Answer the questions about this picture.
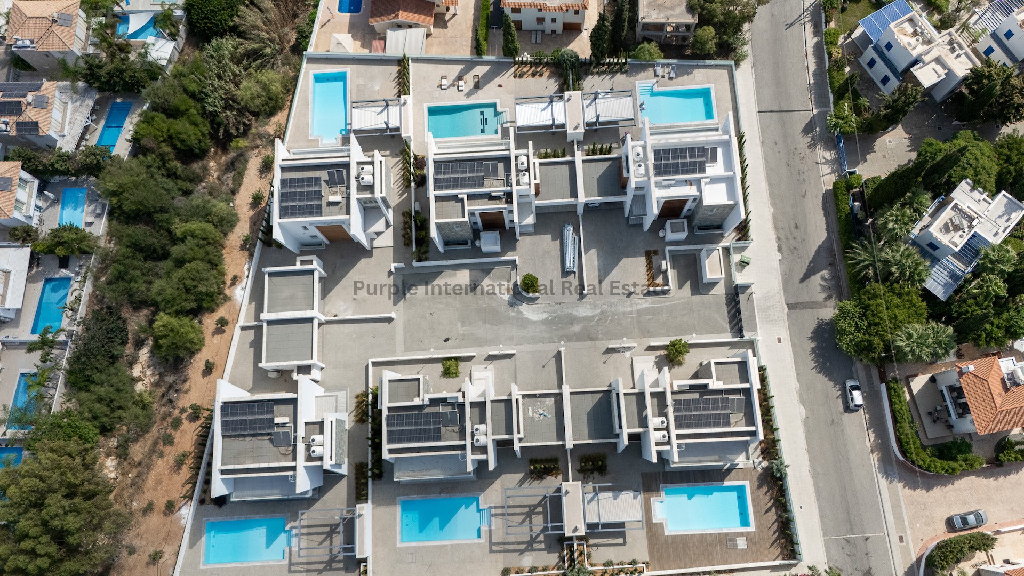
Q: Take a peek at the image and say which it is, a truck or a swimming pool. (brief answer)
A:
swimming pool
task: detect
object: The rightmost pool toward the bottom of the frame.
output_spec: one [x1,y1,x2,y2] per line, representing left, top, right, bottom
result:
[651,478,752,536]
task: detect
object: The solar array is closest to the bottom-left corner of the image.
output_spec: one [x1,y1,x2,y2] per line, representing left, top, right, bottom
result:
[223,400,276,436]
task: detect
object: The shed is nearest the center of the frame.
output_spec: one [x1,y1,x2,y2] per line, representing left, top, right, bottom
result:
[480,230,501,253]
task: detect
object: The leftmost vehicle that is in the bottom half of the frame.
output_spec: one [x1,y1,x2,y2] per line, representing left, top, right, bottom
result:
[841,378,866,412]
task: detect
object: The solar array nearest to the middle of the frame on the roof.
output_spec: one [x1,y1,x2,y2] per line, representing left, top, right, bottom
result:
[435,160,484,191]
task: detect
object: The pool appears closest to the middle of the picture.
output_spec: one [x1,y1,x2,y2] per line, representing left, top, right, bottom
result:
[424,99,511,144]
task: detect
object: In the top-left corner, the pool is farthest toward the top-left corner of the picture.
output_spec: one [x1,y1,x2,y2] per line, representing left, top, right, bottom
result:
[114,7,162,41]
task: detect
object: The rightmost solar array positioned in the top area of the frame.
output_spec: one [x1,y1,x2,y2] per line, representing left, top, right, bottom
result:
[654,146,705,177]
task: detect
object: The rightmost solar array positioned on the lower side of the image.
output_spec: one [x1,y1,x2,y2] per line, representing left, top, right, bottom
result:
[674,396,730,430]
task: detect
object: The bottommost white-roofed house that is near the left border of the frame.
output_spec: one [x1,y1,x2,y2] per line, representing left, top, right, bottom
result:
[0,247,43,315]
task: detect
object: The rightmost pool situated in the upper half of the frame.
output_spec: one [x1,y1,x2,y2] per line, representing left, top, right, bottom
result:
[636,79,717,128]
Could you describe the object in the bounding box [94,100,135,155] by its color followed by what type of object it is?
blue swimming pool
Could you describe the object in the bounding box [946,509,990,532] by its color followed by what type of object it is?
gray car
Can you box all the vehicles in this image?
[841,378,866,412]
[946,509,990,532]
[587,203,601,209]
